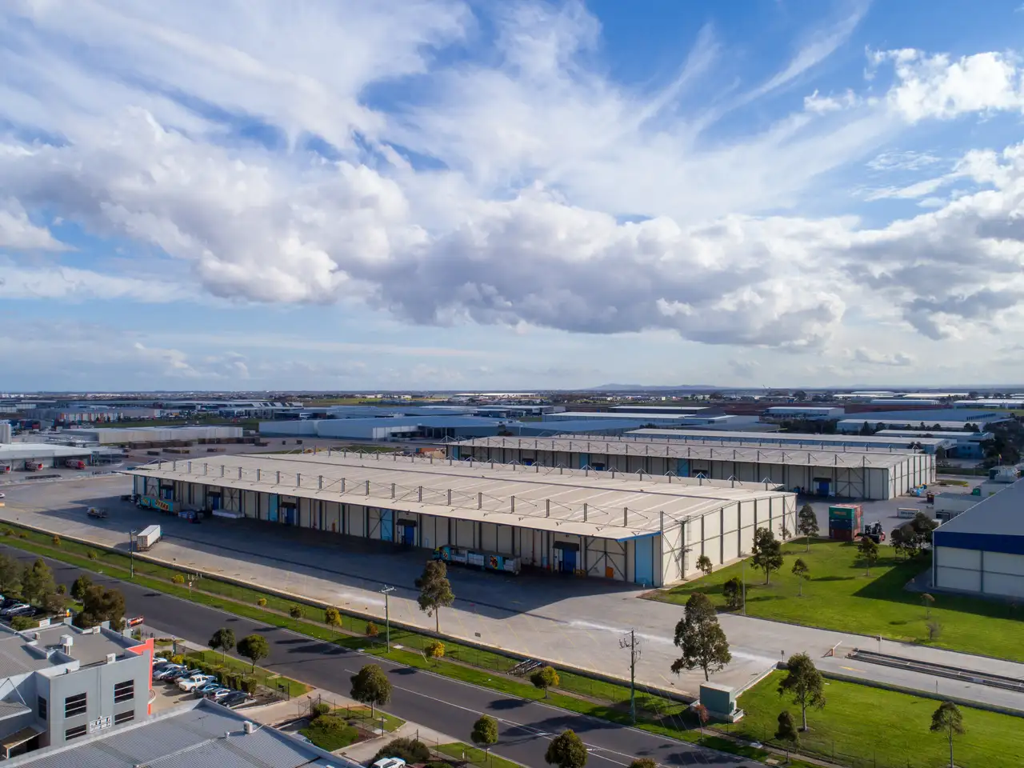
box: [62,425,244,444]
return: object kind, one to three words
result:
shed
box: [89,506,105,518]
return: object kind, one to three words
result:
vehicle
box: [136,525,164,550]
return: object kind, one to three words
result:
vehicle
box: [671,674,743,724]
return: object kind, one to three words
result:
building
